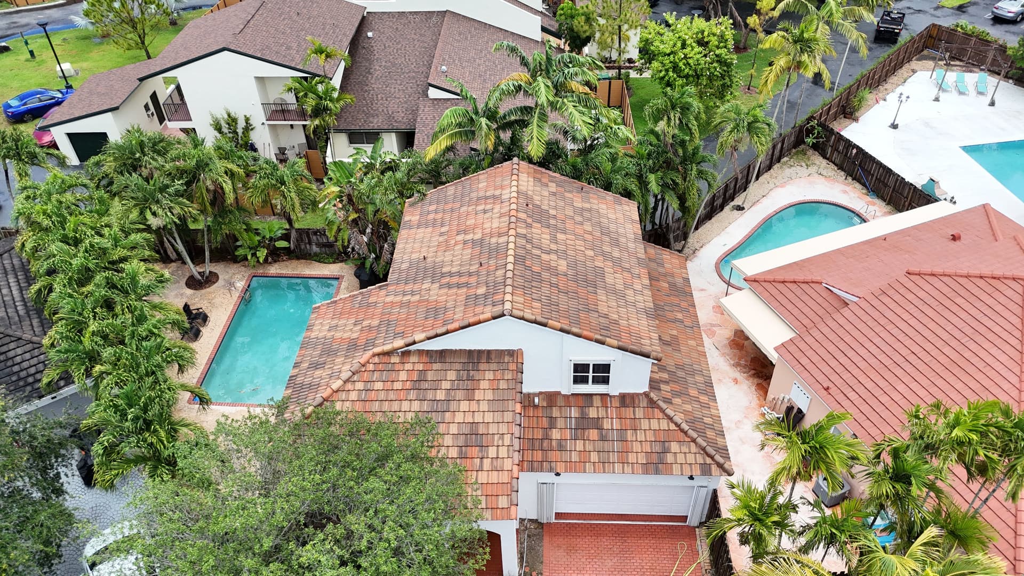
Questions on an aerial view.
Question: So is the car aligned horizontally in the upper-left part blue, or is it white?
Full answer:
The color of the car aligned horizontally in the upper-left part is blue.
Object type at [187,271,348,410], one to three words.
swimming pool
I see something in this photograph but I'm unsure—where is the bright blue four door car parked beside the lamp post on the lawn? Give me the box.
[0,87,73,121]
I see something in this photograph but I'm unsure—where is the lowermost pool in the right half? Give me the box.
[715,198,870,292]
